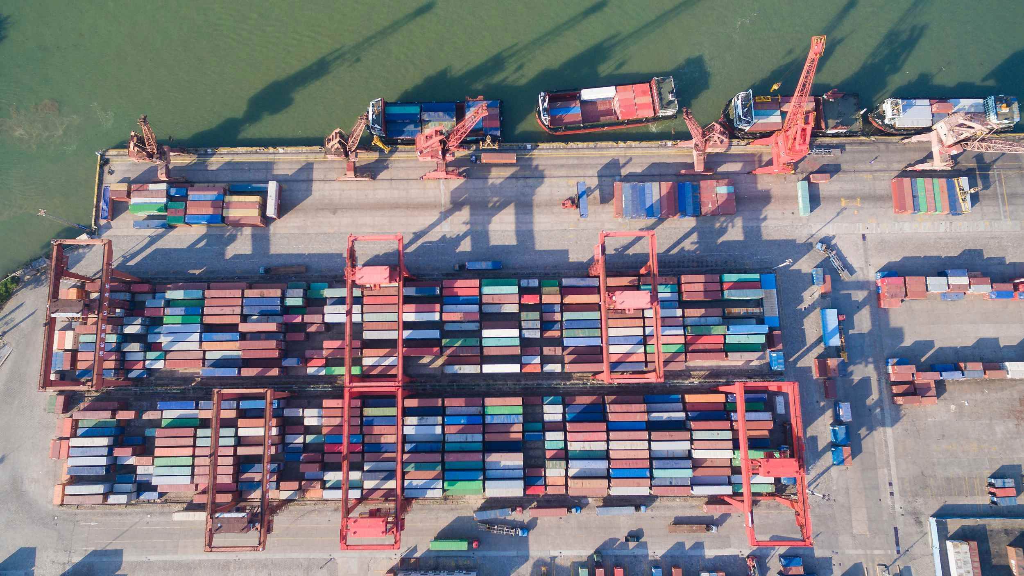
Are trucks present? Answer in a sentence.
Yes, there's a truck here.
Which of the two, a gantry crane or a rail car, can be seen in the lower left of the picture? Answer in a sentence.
The feature located in the lower left of the picture is a gantry crane.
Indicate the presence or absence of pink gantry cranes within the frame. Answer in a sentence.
Yes, the photo shows a pink gantry crane.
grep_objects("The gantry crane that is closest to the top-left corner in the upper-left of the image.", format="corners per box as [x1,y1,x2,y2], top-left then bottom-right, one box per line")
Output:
[118,112,188,185]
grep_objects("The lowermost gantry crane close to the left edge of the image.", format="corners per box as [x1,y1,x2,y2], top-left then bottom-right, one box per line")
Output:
[29,240,148,395]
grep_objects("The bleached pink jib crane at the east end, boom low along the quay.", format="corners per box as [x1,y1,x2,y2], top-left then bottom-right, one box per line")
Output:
[899,108,1024,212]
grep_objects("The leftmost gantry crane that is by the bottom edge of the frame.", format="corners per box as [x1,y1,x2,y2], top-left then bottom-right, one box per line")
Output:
[205,388,308,551]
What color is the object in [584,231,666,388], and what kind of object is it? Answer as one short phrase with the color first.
red container crane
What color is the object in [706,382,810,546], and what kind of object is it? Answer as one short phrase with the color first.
red container crane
